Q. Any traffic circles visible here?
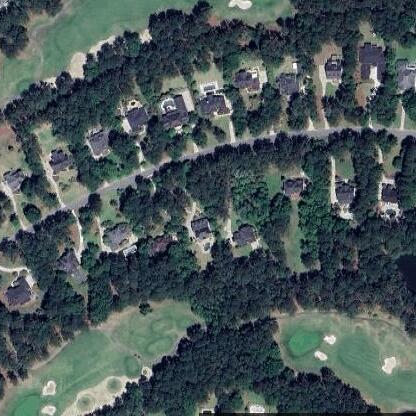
No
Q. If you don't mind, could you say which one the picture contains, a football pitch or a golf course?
golf course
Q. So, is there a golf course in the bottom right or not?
Yes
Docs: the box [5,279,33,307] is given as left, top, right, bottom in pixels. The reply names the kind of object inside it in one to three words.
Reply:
house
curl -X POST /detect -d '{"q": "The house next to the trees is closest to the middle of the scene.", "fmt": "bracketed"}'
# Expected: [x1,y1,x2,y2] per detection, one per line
[190,217,213,237]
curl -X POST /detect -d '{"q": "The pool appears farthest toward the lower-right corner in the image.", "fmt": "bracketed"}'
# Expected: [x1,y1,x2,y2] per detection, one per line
[378,205,400,219]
